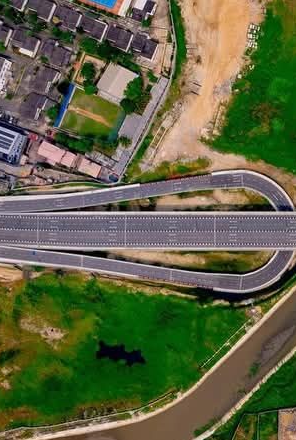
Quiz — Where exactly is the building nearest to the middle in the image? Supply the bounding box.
[78,158,105,179]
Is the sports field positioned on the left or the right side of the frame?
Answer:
left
